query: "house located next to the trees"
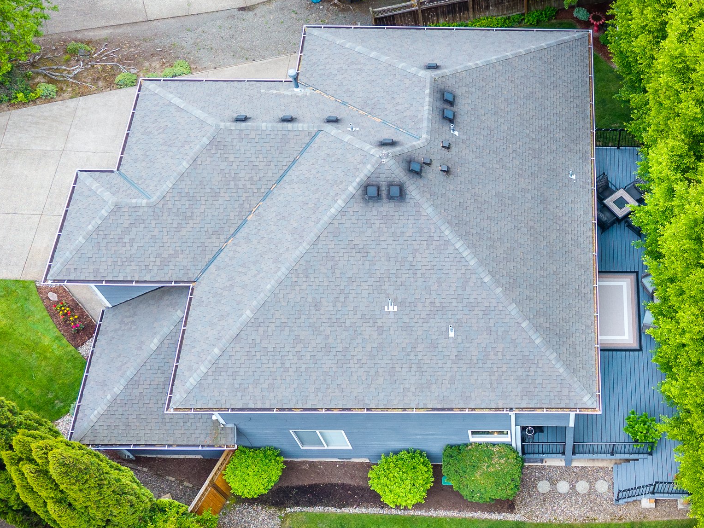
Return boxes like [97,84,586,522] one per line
[44,26,602,466]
